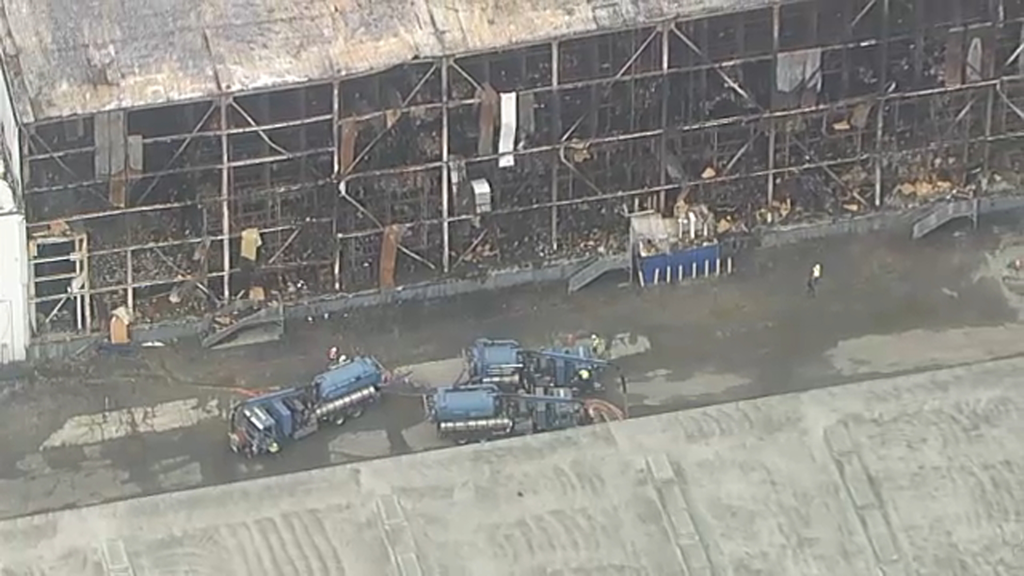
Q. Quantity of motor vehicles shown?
3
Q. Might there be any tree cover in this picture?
No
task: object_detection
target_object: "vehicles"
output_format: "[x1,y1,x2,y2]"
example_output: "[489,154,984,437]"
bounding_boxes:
[223,345,395,465]
[424,378,590,446]
[465,331,619,404]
